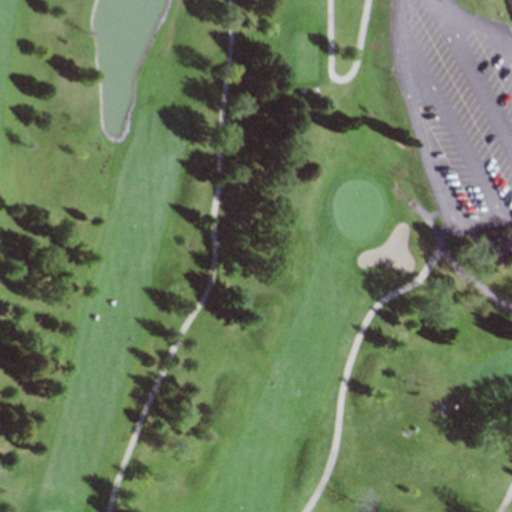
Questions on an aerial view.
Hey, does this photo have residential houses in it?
No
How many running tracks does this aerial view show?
0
